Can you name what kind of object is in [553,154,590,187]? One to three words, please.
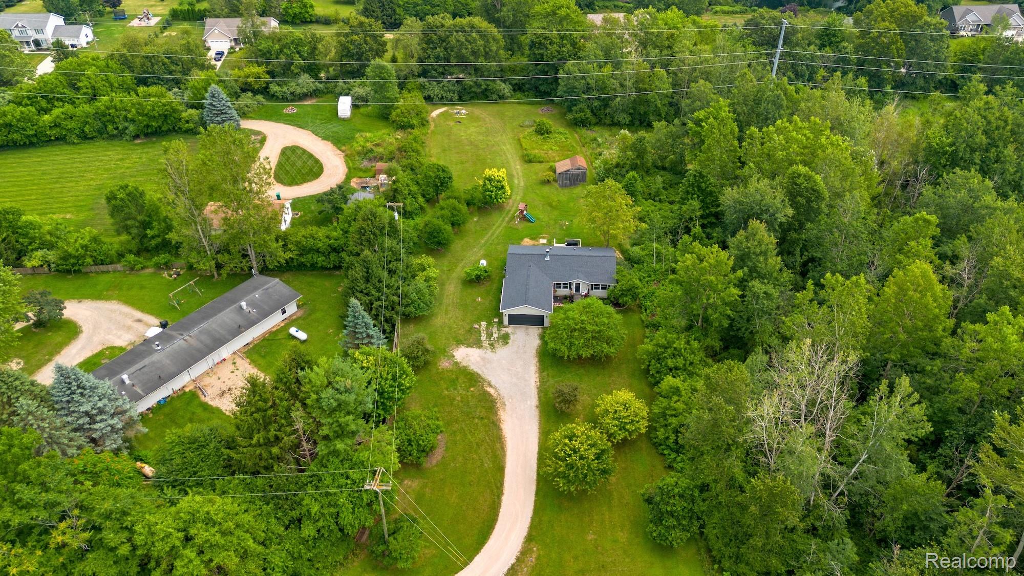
barn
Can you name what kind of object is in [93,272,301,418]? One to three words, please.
house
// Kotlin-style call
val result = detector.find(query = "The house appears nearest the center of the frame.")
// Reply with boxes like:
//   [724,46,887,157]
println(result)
[500,238,616,328]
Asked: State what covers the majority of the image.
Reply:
trees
